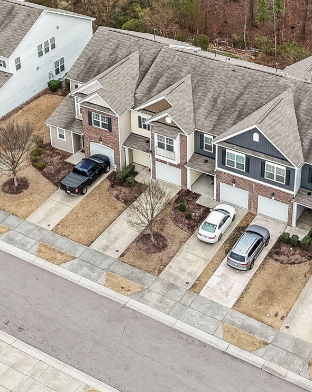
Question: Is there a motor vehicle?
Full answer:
Yes, the picture does show a motor vehicle.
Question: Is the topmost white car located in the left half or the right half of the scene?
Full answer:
You can find the topmost white car on the right side of the picture.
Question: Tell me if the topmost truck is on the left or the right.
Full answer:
It is on the left.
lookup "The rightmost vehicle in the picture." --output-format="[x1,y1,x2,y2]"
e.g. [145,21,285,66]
[227,222,272,268]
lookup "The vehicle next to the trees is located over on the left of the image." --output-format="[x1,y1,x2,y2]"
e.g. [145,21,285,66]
[60,152,113,194]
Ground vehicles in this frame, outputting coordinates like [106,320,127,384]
[60,152,113,194]
[195,202,237,243]
[227,222,272,268]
